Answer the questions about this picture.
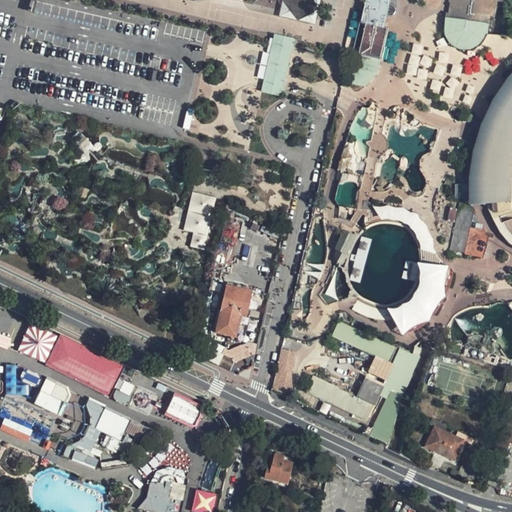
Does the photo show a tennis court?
Yes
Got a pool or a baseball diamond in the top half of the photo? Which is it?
pool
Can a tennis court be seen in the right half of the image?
Yes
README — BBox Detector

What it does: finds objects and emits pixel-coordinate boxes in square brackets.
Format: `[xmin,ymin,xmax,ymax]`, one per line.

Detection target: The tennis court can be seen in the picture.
[428,360,494,400]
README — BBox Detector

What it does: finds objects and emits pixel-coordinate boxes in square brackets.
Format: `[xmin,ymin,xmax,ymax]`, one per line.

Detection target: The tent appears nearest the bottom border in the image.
[191,490,217,512]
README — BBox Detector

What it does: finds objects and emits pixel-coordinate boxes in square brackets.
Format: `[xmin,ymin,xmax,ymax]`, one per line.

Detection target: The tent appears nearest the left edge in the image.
[18,327,58,364]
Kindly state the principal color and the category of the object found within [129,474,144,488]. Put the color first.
white vehicle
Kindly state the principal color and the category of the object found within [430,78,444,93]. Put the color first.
white umbrella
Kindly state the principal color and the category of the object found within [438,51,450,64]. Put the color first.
white umbrella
